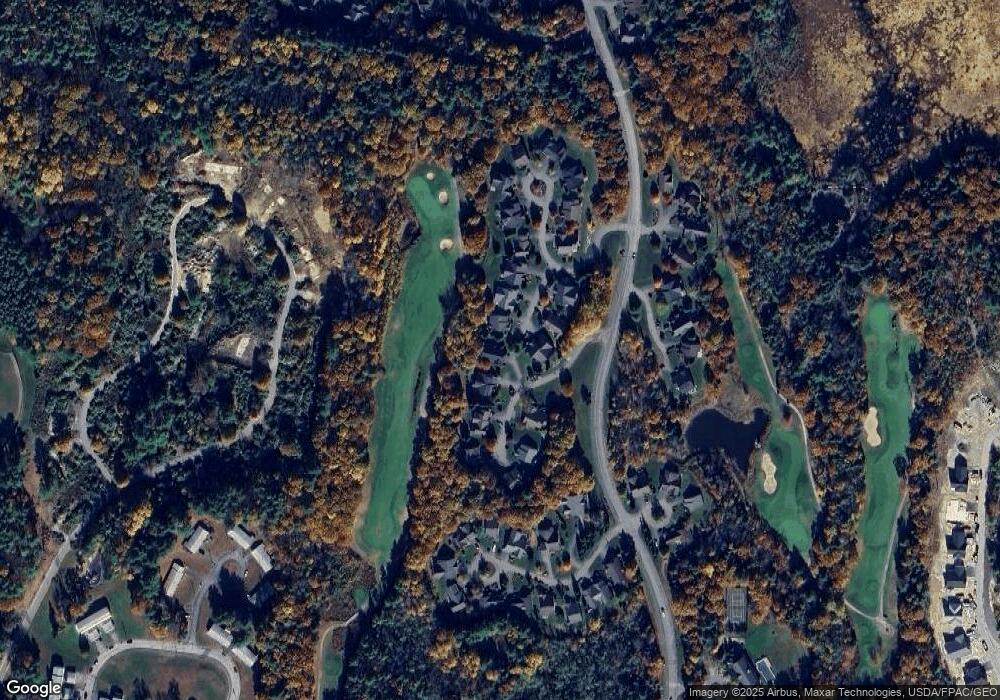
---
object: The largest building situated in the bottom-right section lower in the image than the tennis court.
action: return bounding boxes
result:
[727,655,766,697]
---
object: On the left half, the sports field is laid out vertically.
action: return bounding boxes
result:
[0,334,35,434]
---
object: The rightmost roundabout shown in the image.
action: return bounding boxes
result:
[522,171,555,203]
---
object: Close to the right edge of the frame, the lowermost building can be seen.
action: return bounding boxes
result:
[965,672,988,698]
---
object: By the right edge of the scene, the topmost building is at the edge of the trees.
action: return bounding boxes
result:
[950,472,969,495]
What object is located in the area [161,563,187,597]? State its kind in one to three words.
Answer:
house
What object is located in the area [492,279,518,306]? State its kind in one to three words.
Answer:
house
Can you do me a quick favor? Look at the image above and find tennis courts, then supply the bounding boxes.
[727,588,747,633]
